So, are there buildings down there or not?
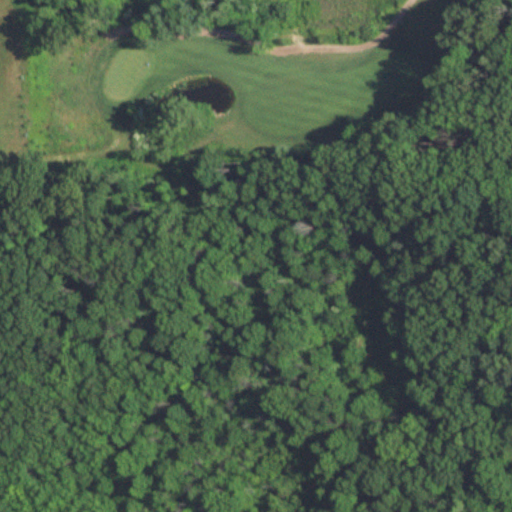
No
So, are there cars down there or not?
No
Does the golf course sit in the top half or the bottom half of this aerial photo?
top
